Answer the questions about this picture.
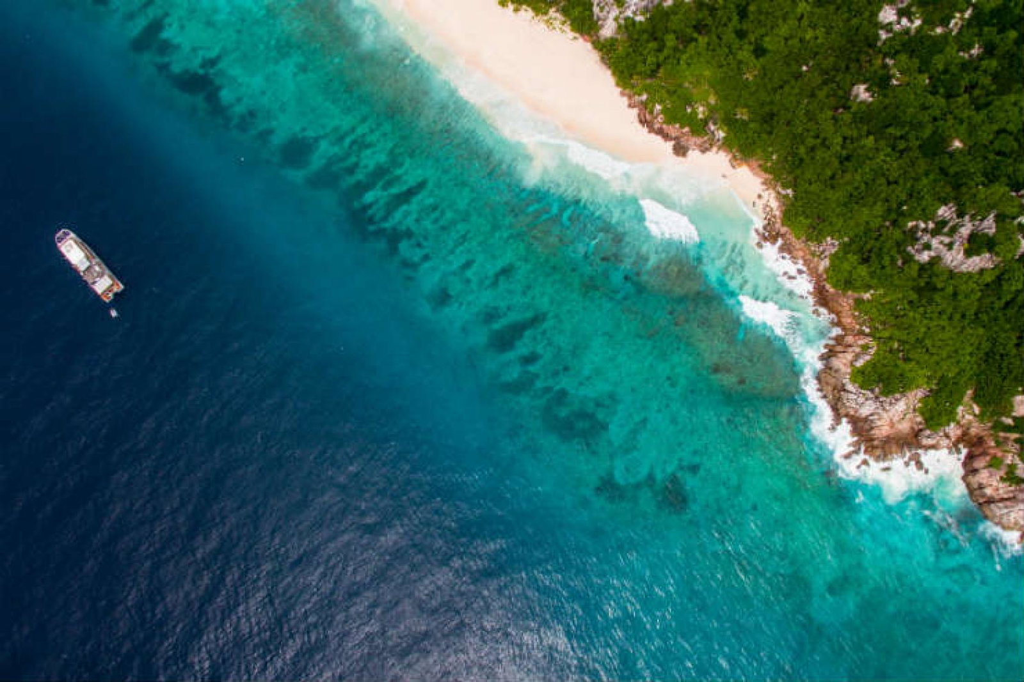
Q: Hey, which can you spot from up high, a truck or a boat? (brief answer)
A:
boat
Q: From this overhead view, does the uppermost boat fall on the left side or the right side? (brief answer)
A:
left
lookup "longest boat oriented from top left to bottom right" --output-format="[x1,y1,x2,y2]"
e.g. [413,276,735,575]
[54,229,125,301]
